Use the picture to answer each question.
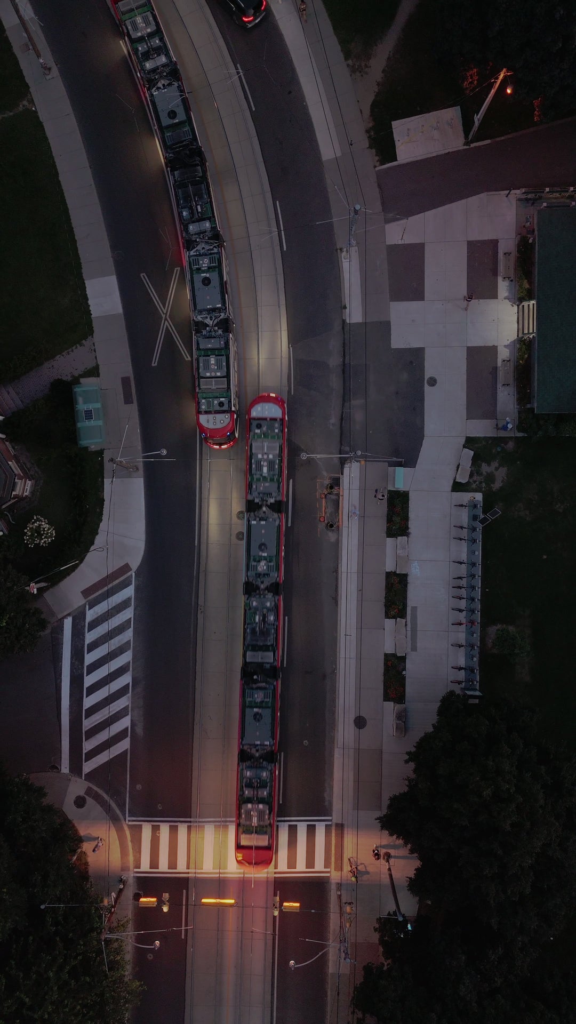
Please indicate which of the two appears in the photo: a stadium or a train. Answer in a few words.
train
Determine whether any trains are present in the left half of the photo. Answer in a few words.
Yes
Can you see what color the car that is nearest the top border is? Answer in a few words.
black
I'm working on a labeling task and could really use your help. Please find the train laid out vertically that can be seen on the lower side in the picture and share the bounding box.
[236,396,291,903]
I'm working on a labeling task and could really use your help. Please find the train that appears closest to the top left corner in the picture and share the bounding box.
[111,0,241,447]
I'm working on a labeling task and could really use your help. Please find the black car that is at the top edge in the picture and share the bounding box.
[227,0,267,29]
